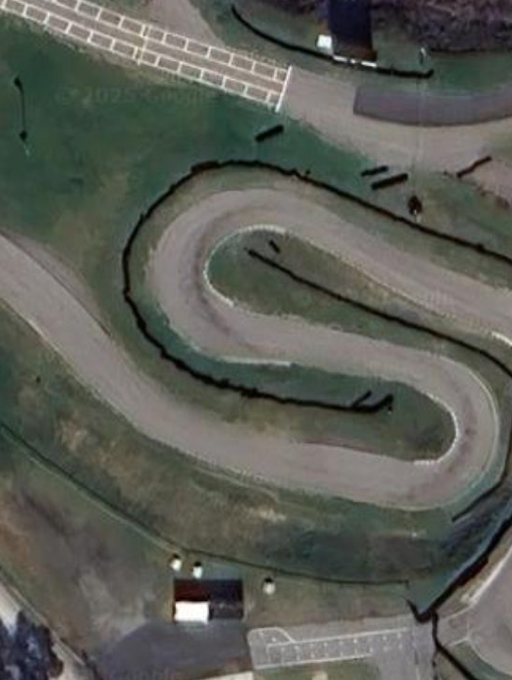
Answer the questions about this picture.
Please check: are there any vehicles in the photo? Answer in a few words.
No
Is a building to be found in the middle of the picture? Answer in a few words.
No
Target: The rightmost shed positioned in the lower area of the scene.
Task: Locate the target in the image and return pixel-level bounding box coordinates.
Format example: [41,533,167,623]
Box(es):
[207,596,242,621]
